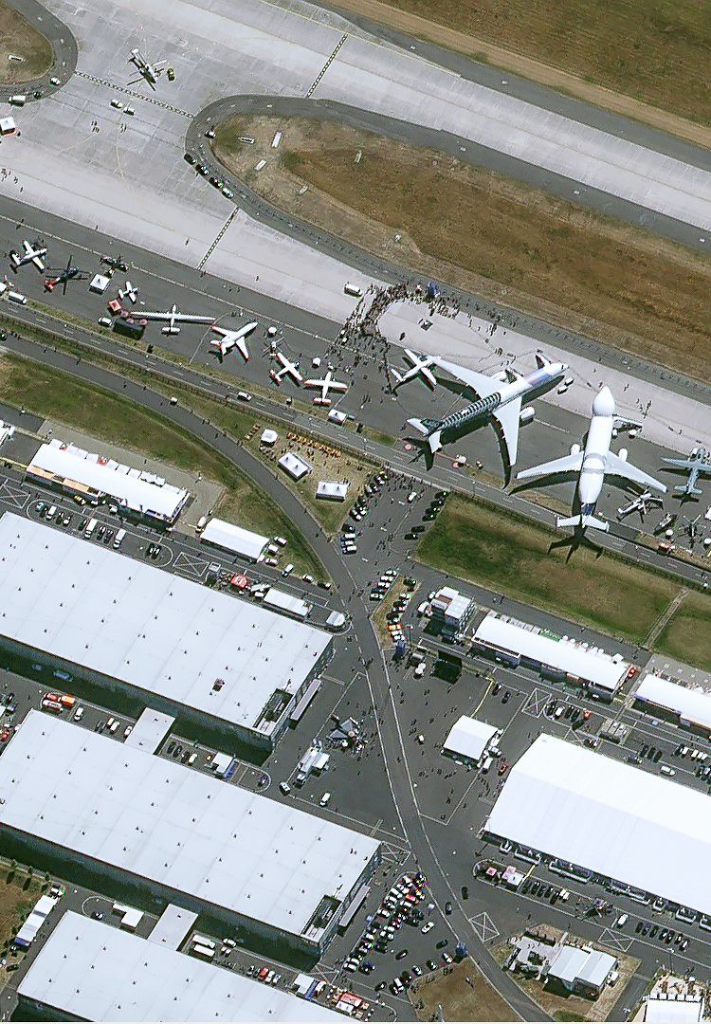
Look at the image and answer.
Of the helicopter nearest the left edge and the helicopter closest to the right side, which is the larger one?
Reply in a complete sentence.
Compared with the helicopter closest to the right side, the helicopter nearest the left edge is the larger one.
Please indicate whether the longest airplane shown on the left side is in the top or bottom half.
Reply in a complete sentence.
The longest airplane shown on the left side sits in the top half of the picture.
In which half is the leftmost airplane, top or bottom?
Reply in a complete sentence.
The top half of the photo is where the leftmost airplane is.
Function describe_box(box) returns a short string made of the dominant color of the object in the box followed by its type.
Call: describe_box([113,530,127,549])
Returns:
white vehicle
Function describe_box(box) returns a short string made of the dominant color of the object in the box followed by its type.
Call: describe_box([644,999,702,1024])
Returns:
white tent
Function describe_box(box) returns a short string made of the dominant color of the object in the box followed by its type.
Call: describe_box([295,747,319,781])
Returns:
white truck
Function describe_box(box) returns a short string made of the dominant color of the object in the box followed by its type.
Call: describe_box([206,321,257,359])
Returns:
white airplane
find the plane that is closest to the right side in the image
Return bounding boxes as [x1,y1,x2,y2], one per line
[657,447,711,493]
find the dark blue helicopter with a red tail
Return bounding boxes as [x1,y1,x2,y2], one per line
[43,254,90,295]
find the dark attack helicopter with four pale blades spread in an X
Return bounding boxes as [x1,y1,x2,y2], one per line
[679,516,705,540]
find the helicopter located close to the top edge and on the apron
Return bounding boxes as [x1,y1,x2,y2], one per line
[127,45,166,91]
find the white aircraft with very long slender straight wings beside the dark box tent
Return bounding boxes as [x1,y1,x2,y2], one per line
[130,304,214,332]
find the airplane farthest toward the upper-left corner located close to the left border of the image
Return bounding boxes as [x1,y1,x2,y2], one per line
[12,238,46,270]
